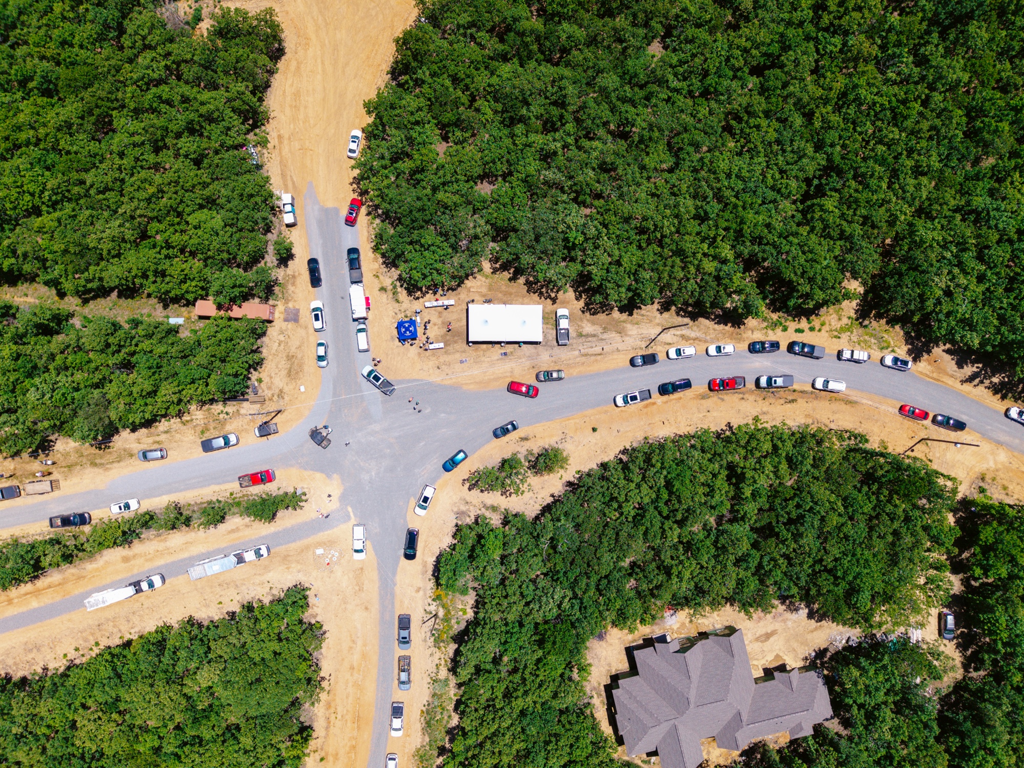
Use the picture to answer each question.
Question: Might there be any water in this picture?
No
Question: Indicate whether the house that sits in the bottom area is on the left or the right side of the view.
right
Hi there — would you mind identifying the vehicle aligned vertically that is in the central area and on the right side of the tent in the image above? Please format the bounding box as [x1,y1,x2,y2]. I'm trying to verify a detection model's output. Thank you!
[556,308,572,348]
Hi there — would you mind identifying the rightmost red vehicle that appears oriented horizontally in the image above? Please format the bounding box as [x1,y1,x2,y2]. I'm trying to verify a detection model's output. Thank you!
[897,404,931,421]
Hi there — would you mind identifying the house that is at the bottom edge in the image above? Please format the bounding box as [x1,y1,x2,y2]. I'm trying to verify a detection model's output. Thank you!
[612,623,835,768]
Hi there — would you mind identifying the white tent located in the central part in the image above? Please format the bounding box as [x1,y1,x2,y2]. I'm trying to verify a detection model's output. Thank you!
[467,304,545,344]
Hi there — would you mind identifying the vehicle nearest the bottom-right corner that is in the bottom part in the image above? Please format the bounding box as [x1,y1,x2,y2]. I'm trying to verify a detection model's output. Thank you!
[939,611,958,640]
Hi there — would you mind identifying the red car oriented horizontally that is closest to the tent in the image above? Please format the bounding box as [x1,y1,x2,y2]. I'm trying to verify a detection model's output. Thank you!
[507,380,540,398]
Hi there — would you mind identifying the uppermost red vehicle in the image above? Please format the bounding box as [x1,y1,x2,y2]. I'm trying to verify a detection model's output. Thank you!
[344,197,362,227]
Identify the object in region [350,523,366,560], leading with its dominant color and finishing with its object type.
white vehicle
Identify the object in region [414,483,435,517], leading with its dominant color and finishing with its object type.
white car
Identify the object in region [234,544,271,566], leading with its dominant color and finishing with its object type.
white truck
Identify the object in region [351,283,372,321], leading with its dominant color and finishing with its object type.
white trailer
